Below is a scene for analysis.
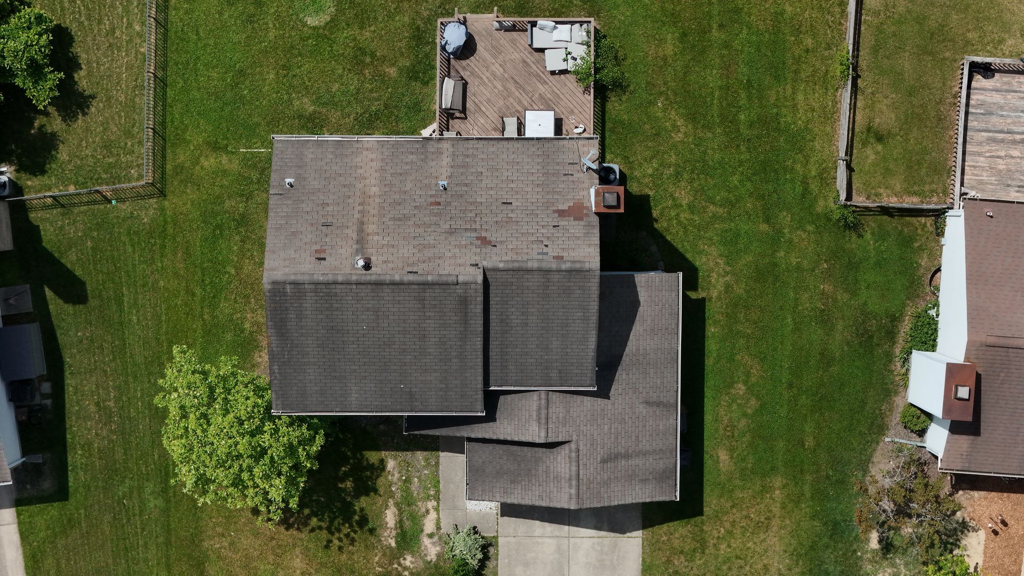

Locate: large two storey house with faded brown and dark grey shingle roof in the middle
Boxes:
[264,135,684,508]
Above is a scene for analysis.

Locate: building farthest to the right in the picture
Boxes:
[909,197,1024,481]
